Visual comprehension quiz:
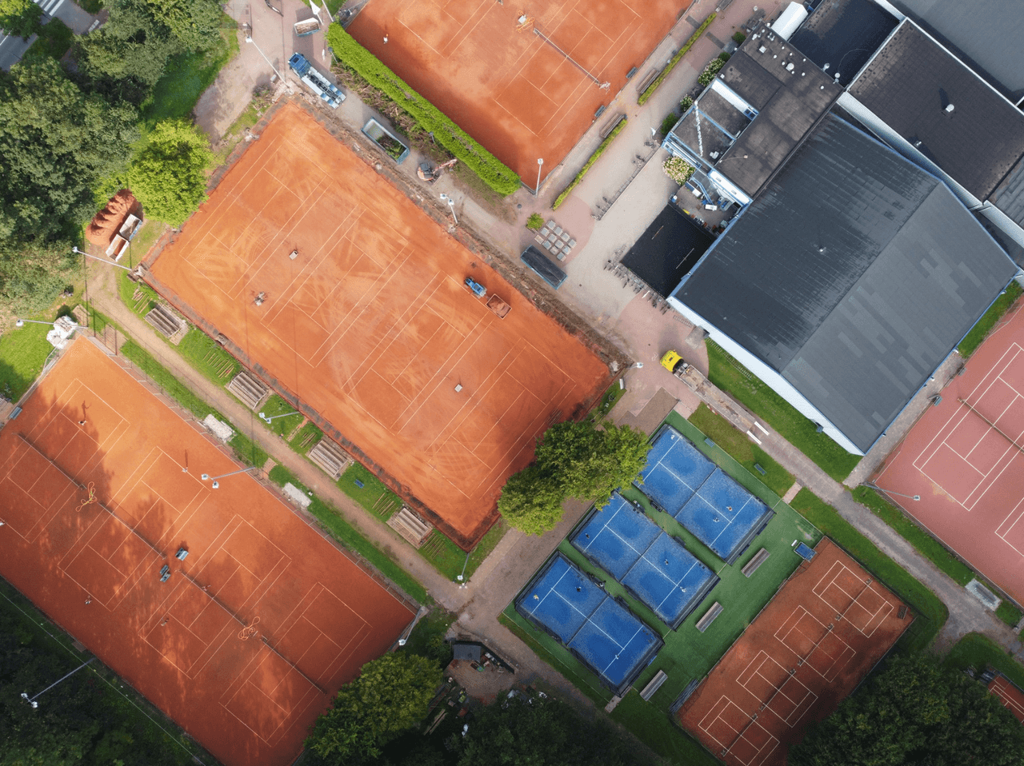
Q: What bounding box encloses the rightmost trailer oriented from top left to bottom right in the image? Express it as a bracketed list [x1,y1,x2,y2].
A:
[682,365,767,442]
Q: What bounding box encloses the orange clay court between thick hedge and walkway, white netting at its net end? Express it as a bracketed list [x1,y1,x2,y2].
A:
[443,0,690,187]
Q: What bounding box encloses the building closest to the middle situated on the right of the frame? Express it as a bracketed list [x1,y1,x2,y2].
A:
[617,202,718,300]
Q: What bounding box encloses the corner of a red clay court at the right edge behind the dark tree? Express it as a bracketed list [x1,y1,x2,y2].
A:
[980,676,1024,732]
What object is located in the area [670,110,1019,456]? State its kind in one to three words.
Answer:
building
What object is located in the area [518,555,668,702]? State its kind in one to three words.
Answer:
sports court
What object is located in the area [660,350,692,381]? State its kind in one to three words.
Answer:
truck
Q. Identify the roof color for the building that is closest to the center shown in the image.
black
